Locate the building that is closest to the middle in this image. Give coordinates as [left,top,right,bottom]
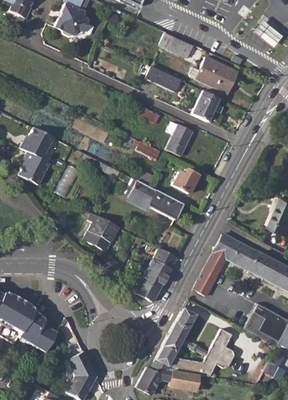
[126,178,184,220]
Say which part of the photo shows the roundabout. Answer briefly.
bottom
